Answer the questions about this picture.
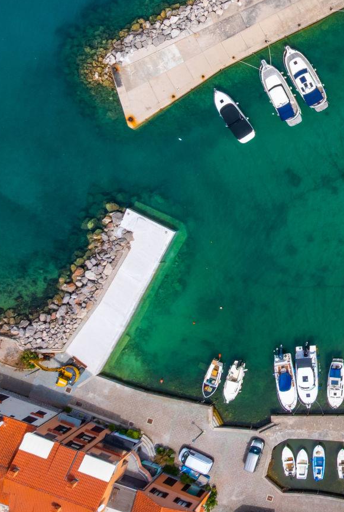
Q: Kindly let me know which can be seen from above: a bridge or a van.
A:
van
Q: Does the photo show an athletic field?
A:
No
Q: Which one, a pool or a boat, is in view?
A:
boat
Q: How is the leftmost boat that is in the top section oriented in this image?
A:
at an angle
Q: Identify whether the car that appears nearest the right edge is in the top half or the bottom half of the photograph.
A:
bottom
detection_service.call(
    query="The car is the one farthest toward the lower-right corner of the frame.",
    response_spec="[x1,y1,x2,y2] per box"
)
[242,436,265,473]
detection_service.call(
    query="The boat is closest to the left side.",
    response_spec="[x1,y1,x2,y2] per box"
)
[203,356,222,403]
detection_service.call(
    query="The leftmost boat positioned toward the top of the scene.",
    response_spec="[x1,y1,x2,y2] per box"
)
[210,90,251,143]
